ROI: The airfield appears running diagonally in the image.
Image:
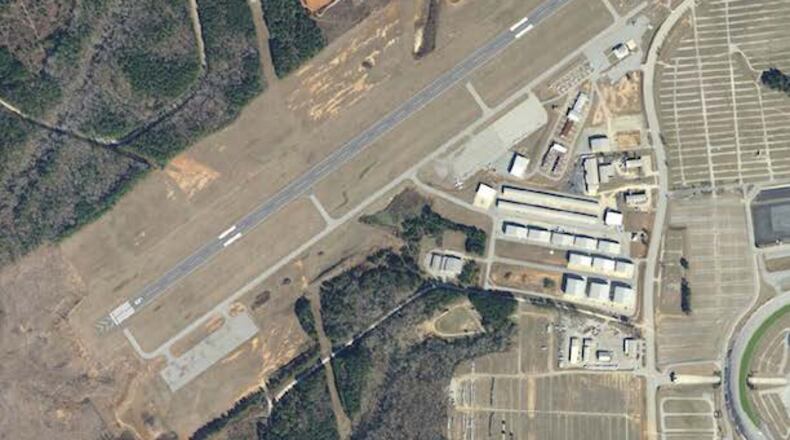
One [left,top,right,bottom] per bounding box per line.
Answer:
[98,0,656,393]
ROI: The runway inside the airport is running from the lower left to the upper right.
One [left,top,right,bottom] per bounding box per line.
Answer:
[98,0,575,333]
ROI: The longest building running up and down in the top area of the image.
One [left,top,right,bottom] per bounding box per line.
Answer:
[586,157,599,189]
